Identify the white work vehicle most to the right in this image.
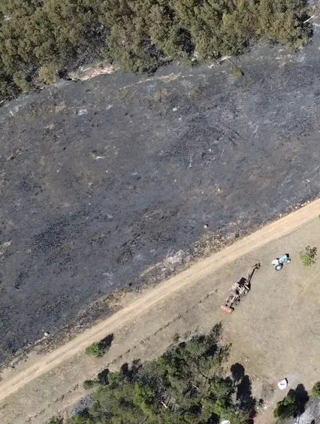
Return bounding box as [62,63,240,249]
[270,253,291,269]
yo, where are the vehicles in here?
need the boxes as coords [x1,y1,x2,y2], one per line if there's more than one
[270,253,291,269]
[223,265,259,312]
